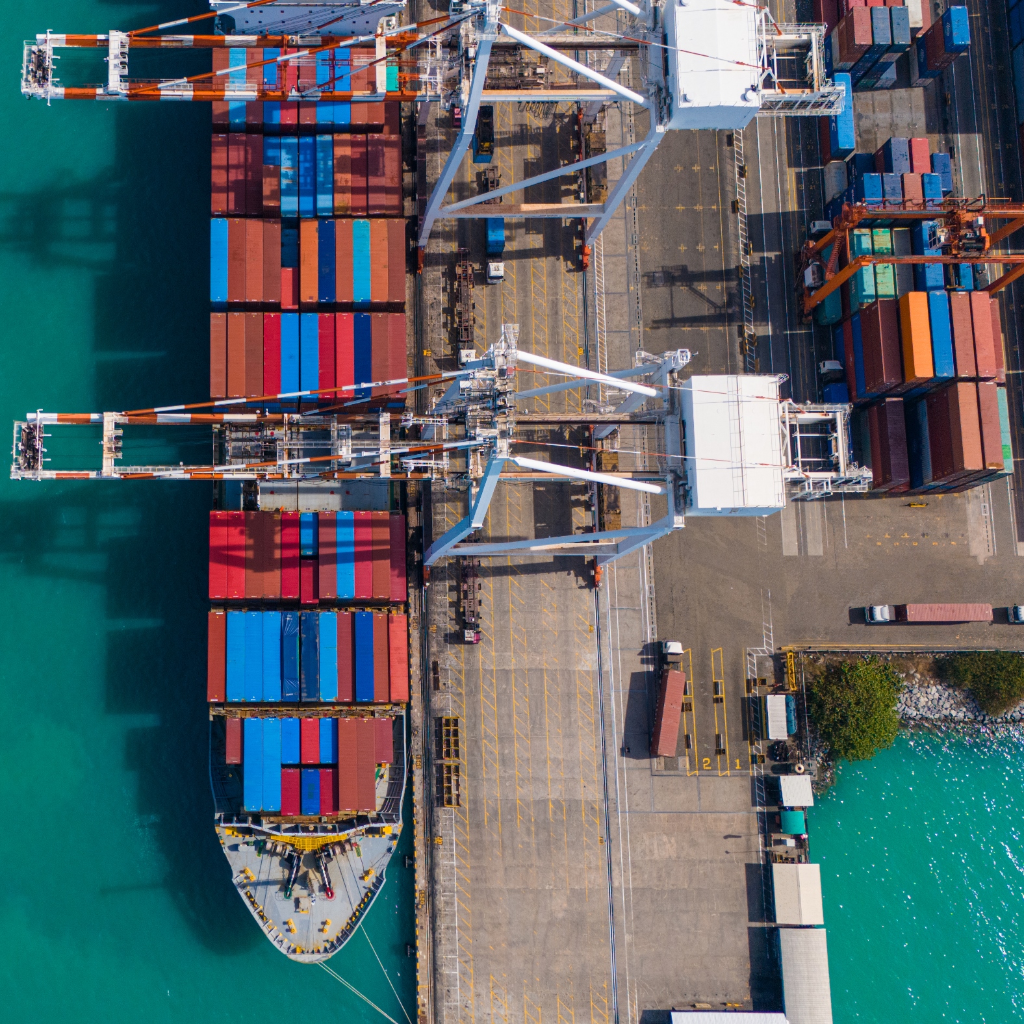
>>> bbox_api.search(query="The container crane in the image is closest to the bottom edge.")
[9,316,883,590]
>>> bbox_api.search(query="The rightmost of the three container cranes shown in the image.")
[800,187,1024,323]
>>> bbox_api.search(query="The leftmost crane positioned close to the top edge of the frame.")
[22,0,853,269]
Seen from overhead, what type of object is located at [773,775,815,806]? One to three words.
shed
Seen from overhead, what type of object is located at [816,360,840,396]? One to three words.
truck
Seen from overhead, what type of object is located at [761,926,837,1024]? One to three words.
shed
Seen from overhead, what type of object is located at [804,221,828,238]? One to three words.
vehicle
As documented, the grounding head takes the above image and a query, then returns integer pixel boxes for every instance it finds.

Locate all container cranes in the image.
[22,0,853,269]
[800,187,1024,323]
[9,316,883,590]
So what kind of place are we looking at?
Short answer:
port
